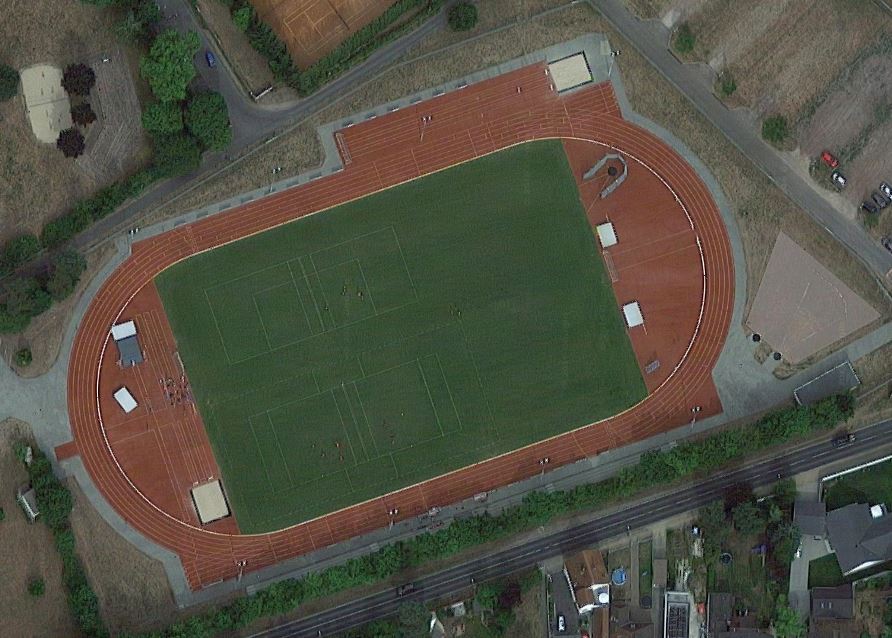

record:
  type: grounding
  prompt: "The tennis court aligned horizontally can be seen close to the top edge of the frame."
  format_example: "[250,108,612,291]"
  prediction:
[253,0,413,71]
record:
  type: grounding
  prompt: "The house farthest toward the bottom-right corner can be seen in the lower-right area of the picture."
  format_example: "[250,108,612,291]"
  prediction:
[813,586,853,638]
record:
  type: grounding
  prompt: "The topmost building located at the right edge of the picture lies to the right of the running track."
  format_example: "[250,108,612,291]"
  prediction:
[794,362,860,414]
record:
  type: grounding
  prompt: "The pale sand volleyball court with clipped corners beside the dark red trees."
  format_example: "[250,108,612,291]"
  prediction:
[21,65,71,143]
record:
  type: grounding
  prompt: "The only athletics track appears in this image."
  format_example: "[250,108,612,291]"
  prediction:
[54,60,734,592]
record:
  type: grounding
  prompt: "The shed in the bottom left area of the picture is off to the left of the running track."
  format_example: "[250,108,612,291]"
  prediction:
[18,485,38,519]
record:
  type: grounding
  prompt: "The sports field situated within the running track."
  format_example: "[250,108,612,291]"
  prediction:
[142,139,647,533]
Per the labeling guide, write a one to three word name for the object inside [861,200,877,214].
vehicle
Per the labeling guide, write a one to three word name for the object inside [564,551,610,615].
house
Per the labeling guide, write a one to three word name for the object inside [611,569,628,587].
swimming pool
